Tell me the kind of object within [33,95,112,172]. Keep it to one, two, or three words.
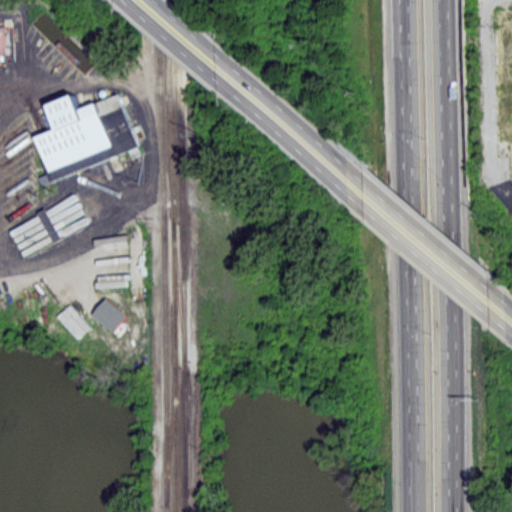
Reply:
building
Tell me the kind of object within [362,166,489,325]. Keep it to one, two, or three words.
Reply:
overpass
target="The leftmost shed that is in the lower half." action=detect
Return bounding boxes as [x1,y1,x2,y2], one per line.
[57,306,94,340]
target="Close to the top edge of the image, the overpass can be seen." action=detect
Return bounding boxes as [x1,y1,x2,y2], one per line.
[124,0,214,90]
